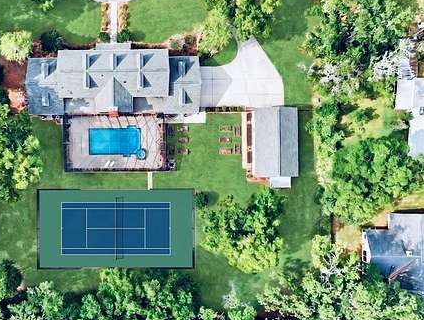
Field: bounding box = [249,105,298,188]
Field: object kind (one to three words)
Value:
building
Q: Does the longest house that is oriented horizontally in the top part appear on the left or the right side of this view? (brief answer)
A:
left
